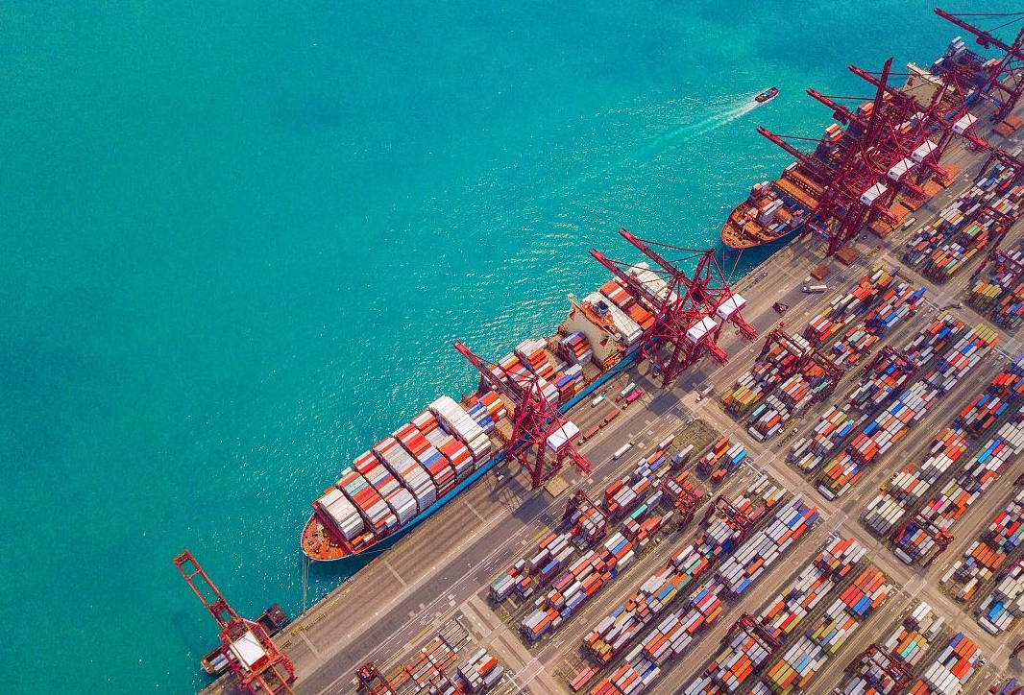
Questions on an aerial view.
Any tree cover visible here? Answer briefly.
No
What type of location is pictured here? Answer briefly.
port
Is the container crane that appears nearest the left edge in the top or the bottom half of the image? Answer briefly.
bottom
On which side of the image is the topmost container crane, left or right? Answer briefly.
right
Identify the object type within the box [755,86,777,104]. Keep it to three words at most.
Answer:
boat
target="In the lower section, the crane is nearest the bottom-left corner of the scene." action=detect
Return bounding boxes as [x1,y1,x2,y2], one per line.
[166,551,299,695]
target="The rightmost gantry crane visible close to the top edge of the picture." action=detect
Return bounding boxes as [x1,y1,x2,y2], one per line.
[937,13,1024,113]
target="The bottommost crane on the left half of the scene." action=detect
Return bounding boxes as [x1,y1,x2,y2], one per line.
[358,664,399,695]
